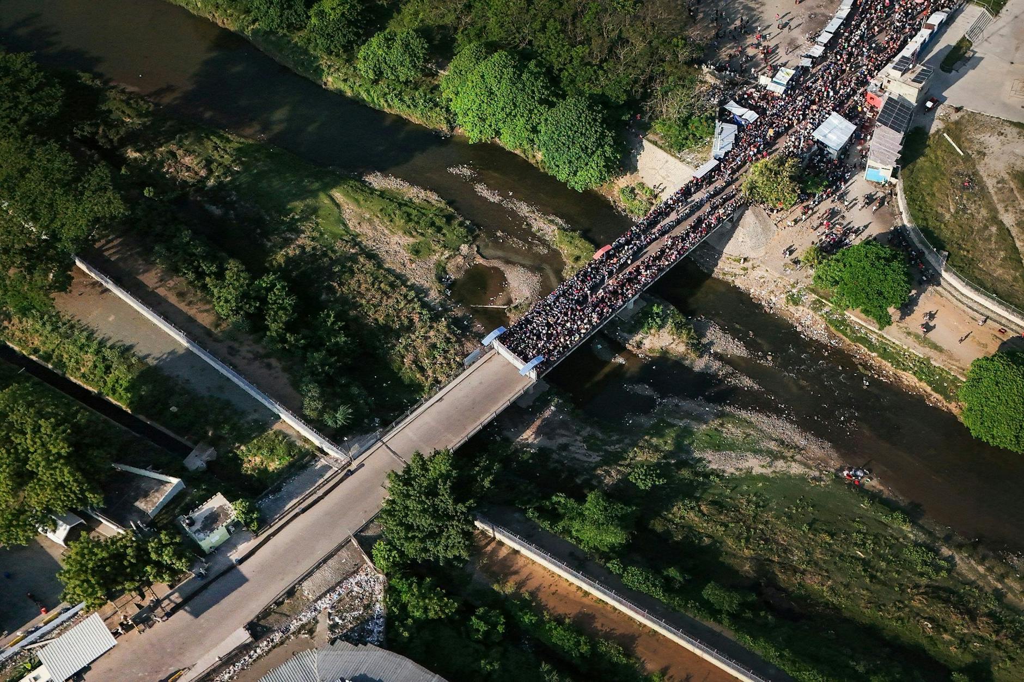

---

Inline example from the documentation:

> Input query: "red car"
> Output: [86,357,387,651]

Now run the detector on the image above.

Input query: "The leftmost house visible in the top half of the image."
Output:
[711,120,737,171]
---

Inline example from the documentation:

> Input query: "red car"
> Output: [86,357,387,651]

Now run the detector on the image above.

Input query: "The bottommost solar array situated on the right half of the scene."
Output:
[876,96,913,133]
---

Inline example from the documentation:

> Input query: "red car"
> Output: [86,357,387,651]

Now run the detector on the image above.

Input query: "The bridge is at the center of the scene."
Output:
[397,179,745,461]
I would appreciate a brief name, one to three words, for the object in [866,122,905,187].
building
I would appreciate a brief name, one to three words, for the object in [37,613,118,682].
house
